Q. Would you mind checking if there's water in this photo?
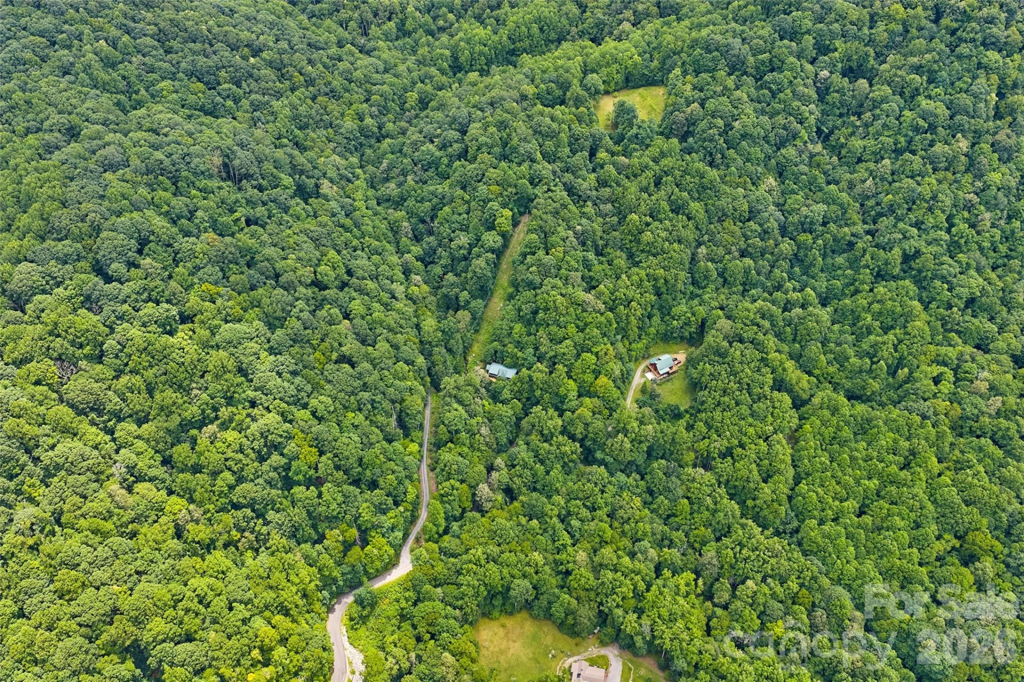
No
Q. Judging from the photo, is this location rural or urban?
rural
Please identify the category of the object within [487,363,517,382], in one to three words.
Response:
building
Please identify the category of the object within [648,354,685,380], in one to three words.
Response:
house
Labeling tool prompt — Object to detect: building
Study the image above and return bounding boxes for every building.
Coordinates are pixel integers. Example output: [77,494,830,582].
[571,659,607,682]
[648,354,685,380]
[487,363,517,382]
